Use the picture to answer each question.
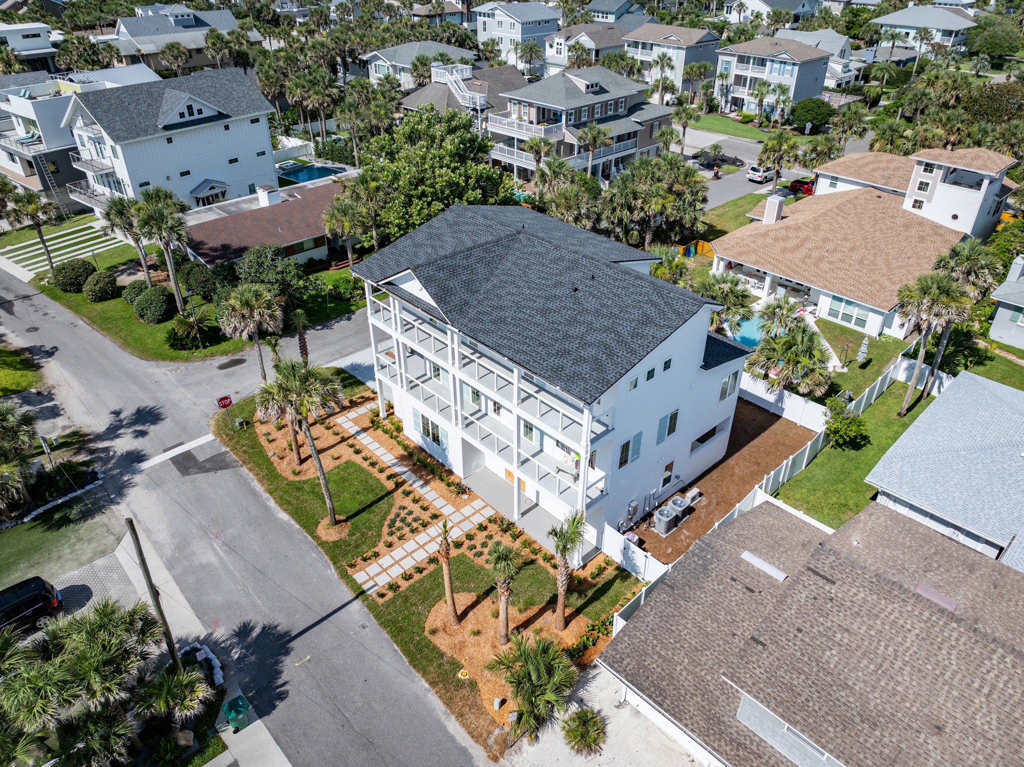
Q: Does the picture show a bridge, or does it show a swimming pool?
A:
swimming pool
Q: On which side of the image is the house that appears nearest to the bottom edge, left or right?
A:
right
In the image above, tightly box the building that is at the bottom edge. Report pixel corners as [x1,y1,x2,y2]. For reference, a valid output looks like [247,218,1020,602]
[588,482,1024,767]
